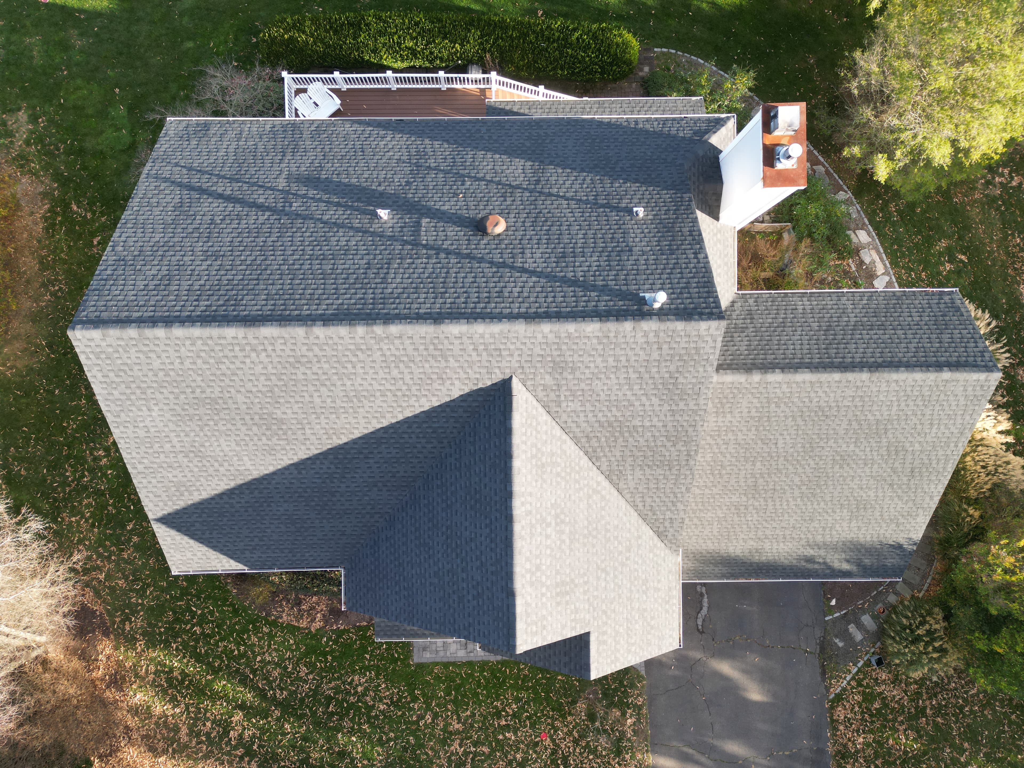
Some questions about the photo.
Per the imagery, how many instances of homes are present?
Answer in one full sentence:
I count just 1 home.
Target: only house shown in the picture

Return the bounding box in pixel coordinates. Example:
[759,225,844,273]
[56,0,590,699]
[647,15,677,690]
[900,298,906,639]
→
[68,97,1002,680]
